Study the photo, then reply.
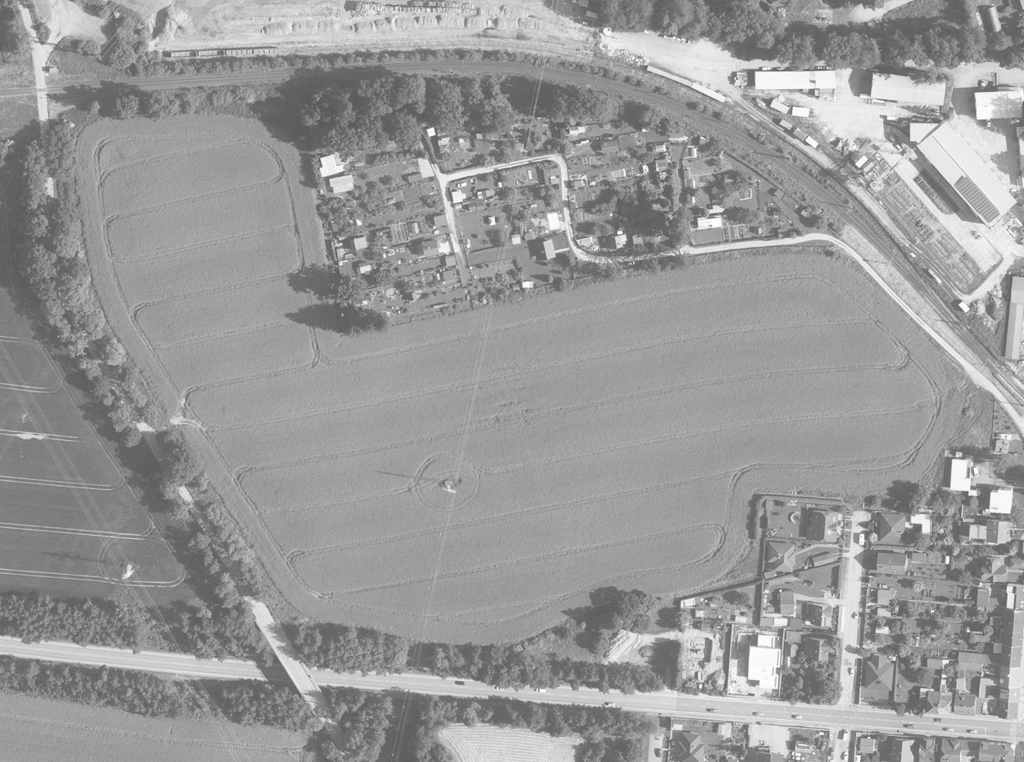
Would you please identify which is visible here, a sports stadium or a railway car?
railway car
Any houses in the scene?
Yes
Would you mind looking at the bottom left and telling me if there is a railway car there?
No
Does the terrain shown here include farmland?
Yes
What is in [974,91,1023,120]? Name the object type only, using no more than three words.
building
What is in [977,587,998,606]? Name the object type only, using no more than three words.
shed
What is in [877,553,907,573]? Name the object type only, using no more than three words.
house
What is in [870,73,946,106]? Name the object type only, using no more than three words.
building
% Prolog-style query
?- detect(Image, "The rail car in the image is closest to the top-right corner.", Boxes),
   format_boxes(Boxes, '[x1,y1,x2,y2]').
[692,81,727,103]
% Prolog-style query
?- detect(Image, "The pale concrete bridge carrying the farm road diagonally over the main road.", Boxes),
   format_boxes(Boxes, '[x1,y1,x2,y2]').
[251,599,324,711]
